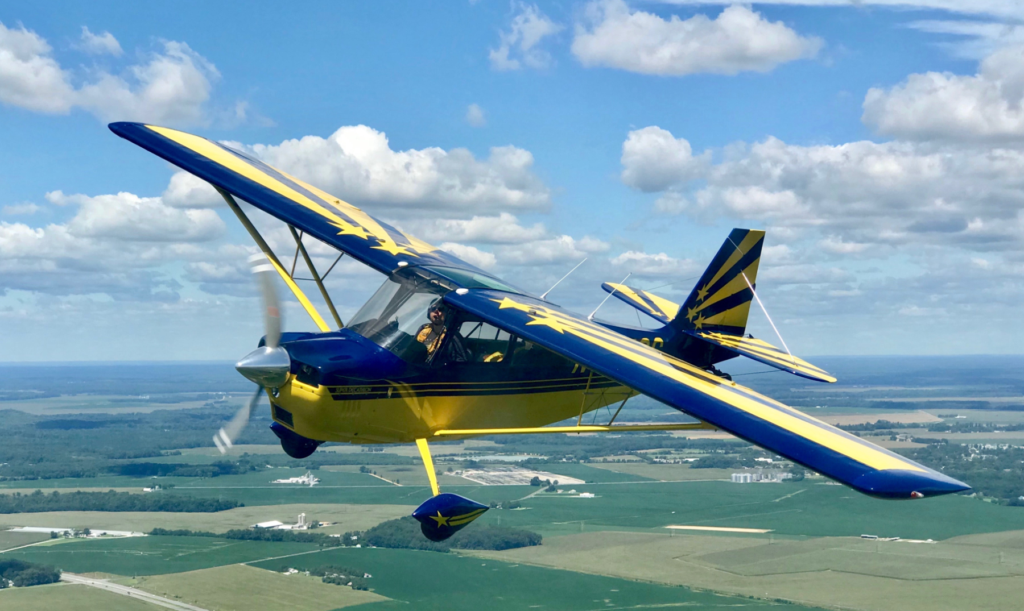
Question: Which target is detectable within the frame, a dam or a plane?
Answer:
plane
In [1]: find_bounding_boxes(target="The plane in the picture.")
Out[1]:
[103,124,973,543]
